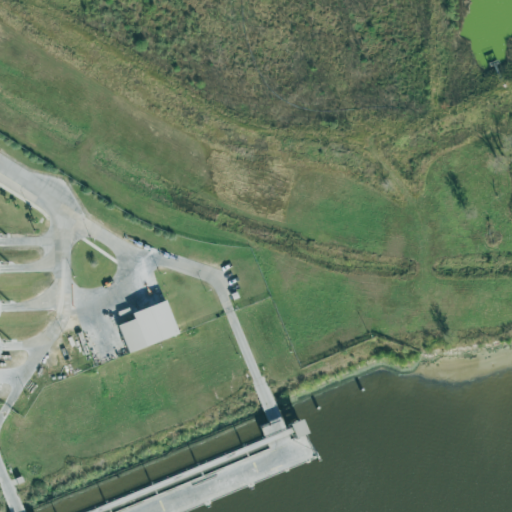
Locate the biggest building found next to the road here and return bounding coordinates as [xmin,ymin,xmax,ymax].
[119,300,180,353]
